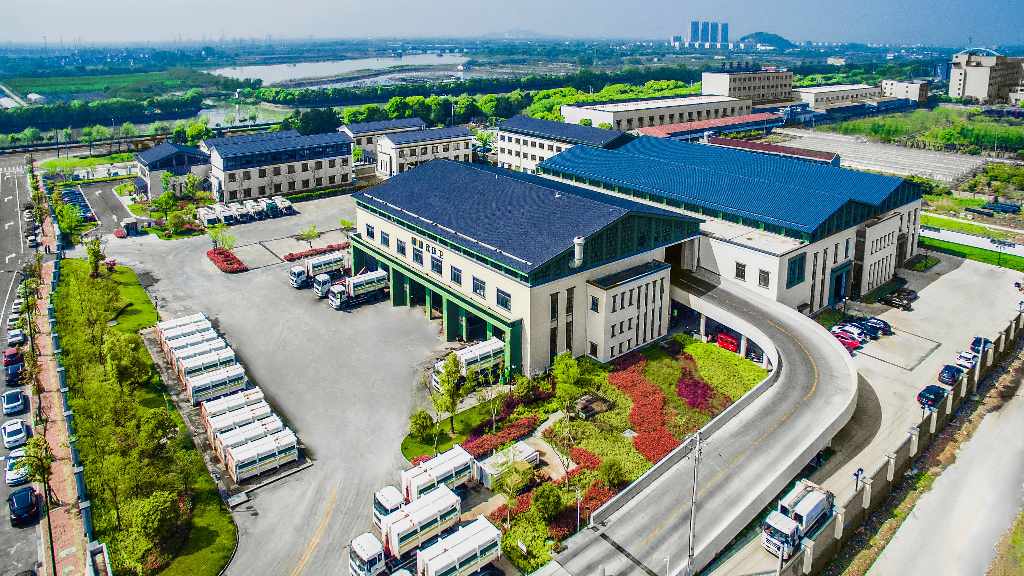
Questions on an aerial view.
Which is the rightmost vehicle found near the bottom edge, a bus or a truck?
truck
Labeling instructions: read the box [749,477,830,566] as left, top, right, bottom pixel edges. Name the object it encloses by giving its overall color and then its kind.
white truck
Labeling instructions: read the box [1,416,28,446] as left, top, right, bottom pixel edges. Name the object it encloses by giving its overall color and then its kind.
white car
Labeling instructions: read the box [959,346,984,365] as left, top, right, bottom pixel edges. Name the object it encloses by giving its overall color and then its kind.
white car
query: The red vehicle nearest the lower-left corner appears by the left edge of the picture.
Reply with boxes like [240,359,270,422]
[1,343,22,364]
